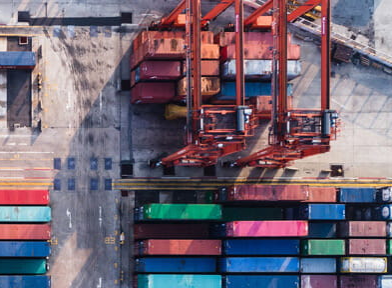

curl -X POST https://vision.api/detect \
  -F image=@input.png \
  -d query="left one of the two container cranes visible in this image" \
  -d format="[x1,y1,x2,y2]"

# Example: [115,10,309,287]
[137,0,251,165]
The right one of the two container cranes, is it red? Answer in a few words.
Yes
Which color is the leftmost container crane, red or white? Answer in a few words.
red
